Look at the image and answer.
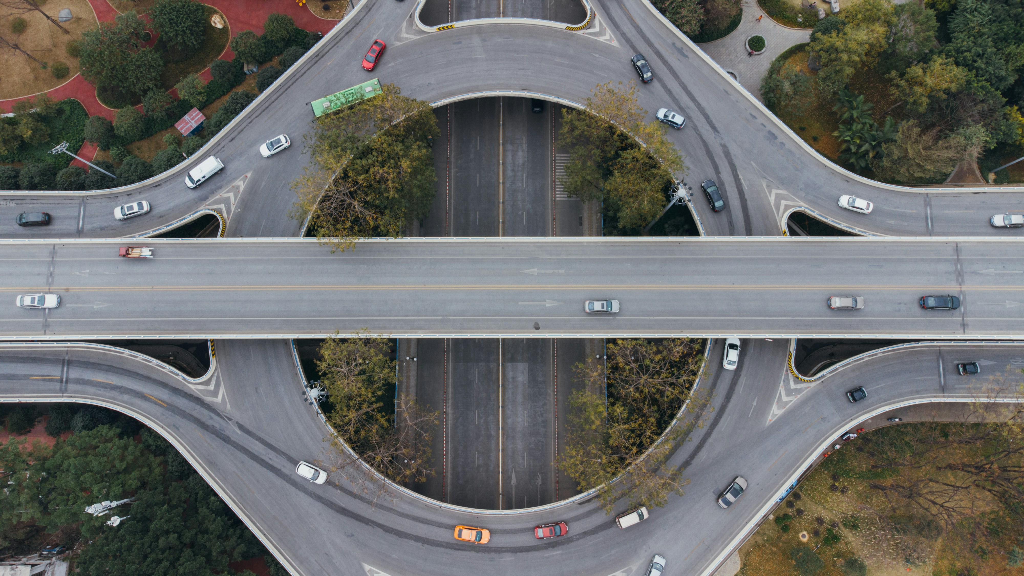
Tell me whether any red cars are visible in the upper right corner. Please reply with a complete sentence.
No, no red car appears in the upper right corner.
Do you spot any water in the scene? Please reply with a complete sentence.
No, there's no water in this view.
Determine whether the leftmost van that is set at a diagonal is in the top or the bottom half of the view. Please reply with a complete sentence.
It is in the top half that the leftmost van that is set at a diagonal appears.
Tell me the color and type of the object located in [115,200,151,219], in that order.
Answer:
white car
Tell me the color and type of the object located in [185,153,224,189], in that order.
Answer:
white van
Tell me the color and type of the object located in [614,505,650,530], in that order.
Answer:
white car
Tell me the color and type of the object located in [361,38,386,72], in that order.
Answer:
red car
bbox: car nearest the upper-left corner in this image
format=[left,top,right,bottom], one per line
[16,210,53,226]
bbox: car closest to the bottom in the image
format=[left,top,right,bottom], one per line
[643,548,666,576]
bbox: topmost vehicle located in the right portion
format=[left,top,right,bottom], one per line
[630,52,655,86]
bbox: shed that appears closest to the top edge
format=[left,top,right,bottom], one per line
[175,107,210,137]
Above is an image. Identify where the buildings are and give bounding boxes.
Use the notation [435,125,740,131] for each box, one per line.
[175,107,210,137]
[0,543,82,576]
